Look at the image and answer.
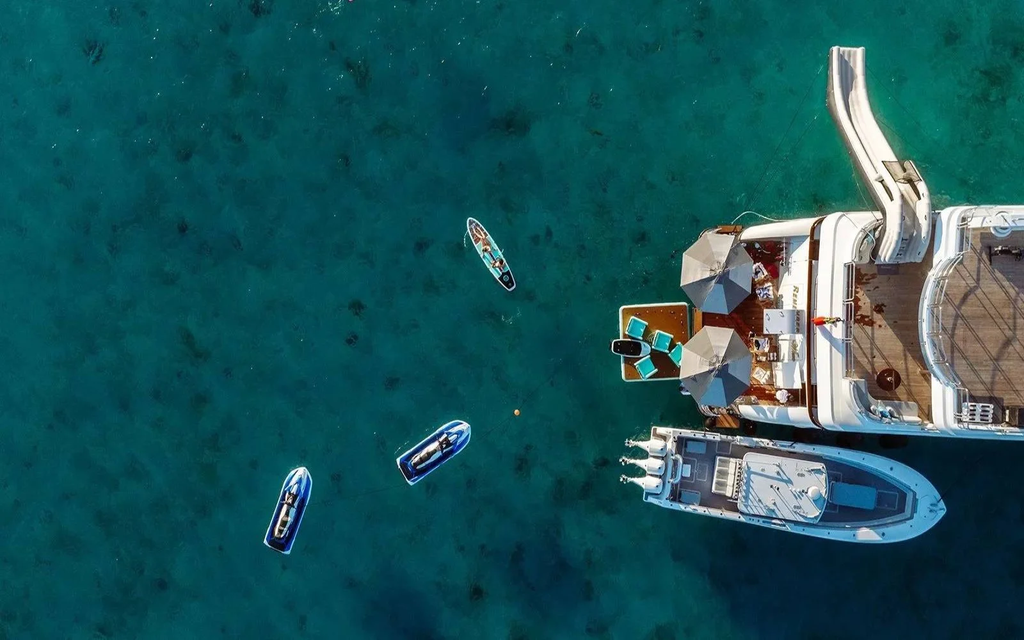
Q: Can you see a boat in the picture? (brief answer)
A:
Yes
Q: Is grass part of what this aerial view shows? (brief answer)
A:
No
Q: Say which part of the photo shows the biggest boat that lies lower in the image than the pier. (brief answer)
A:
bottom right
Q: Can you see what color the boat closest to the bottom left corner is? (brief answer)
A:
blue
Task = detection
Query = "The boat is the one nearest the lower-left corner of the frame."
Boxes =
[262,468,310,554]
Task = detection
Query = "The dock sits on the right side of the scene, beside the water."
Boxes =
[618,302,691,383]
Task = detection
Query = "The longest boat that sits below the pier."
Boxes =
[614,425,947,543]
